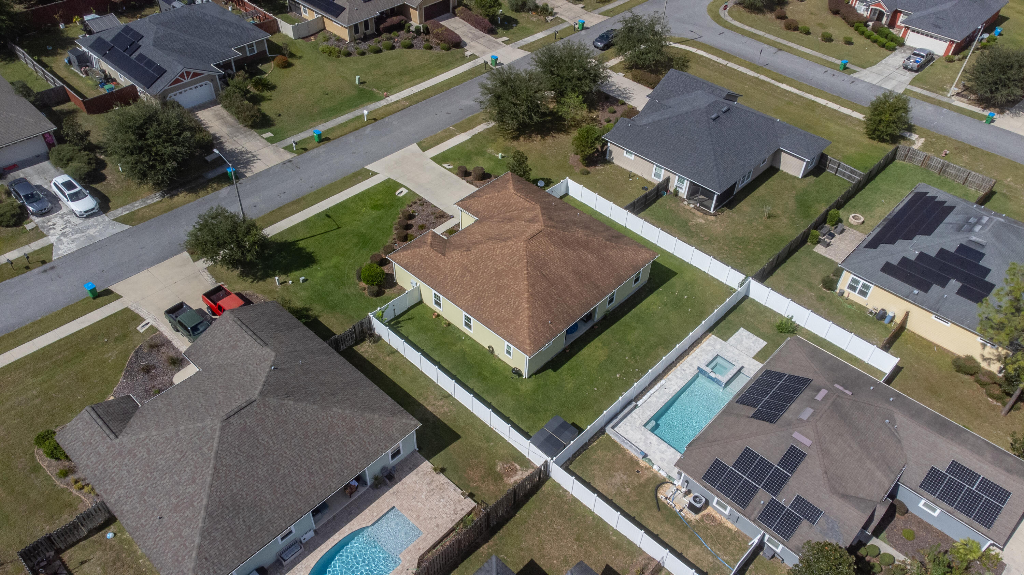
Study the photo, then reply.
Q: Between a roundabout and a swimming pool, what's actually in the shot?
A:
swimming pool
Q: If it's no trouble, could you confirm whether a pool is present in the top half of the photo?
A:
No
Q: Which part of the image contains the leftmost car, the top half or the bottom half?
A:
top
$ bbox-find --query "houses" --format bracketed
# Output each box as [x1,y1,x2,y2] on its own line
[278,0,454,46]
[386,170,660,379]
[849,0,1010,62]
[78,0,295,110]
[55,299,422,575]
[675,334,1024,575]
[0,74,61,176]
[601,68,832,216]
[834,182,1024,380]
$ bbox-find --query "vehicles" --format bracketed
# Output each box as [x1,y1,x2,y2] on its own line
[55,177,100,217]
[165,304,213,345]
[904,42,938,69]
[5,181,46,214]
[595,22,625,46]
[202,287,245,318]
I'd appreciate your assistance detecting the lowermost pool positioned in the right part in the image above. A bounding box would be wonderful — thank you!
[644,369,753,454]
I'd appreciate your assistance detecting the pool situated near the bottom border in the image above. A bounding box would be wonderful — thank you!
[308,506,423,575]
